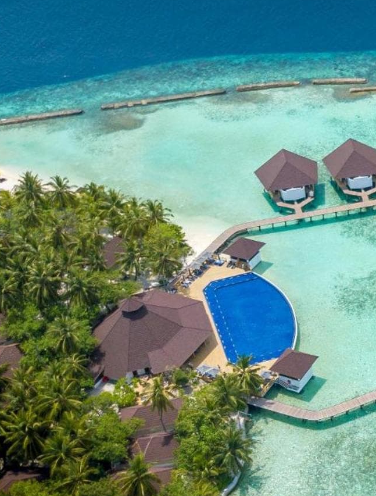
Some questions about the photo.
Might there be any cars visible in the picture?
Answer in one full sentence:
No, no car is visible in the scene.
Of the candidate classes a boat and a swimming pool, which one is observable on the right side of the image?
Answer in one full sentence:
The feature located on the right side of the image is a swimming pool.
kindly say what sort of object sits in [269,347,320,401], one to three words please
shed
